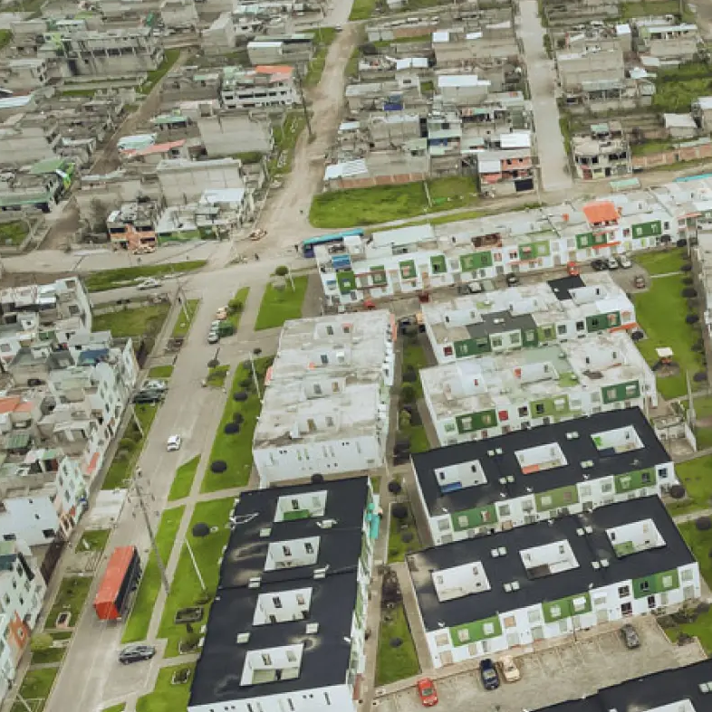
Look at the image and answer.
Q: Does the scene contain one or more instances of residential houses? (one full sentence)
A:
Yes, this view includes a residential house.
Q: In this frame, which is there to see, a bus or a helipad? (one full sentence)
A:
This aerial view contains a bus.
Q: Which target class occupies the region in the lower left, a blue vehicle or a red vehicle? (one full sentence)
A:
It is a red vehicle that can be seen in the lower left.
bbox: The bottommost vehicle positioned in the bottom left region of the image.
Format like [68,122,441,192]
[118,645,153,663]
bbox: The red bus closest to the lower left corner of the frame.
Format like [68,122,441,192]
[92,553,136,625]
